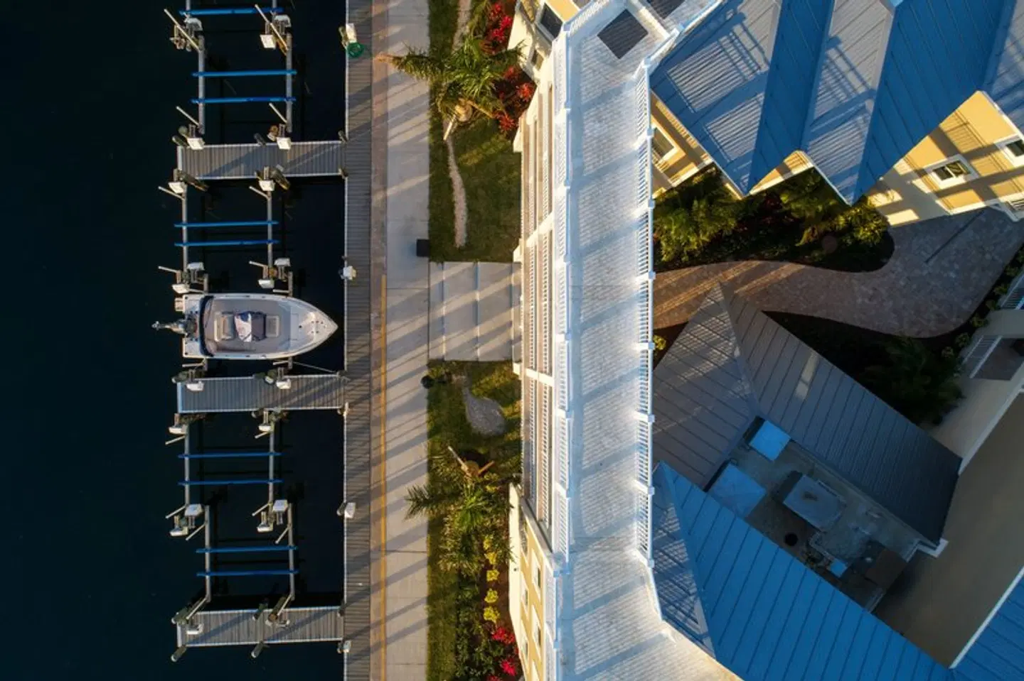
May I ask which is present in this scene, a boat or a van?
boat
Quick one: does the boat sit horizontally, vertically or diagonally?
horizontally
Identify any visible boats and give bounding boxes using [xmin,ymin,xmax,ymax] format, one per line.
[154,292,338,362]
